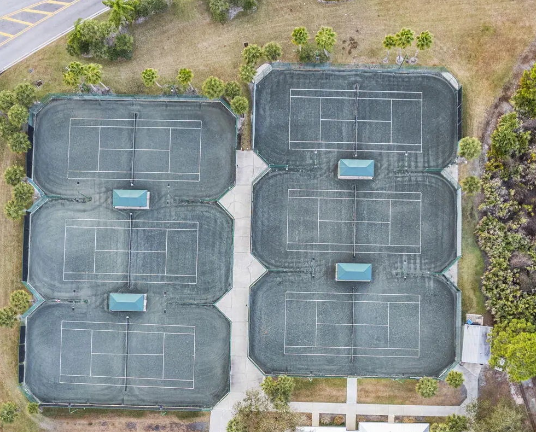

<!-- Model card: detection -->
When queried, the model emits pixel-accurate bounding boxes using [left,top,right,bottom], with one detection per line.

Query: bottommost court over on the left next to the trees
[25,301,231,408]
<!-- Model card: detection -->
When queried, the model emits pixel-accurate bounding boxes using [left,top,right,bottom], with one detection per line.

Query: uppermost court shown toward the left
[34,100,236,200]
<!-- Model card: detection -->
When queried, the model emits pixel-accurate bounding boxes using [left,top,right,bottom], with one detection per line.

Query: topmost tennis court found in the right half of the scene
[254,68,457,172]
